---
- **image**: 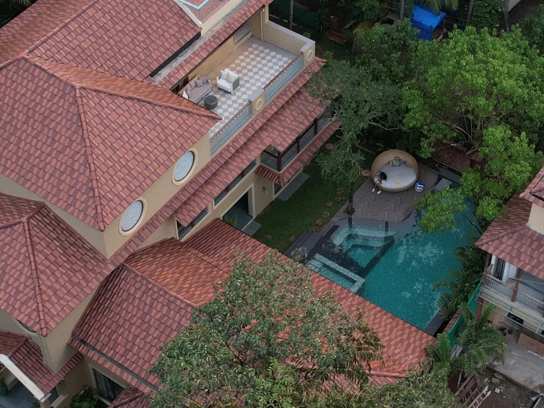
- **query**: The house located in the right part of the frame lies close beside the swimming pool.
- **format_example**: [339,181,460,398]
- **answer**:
[471,159,544,341]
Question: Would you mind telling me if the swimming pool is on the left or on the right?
right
